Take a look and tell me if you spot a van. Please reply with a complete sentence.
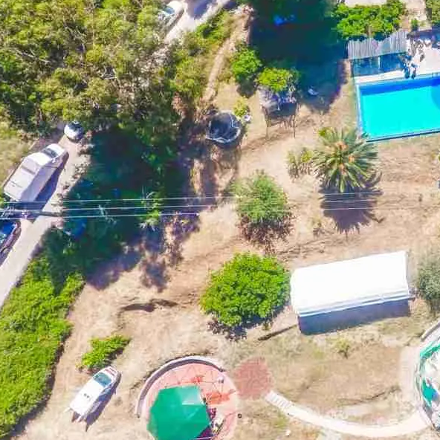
Yes, the photo shows a van.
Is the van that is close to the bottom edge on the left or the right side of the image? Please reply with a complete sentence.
You can find the van that is close to the bottom edge on the left side of the picture.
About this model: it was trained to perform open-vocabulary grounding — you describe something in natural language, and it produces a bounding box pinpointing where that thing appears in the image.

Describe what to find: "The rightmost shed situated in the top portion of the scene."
[347,34,412,81]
